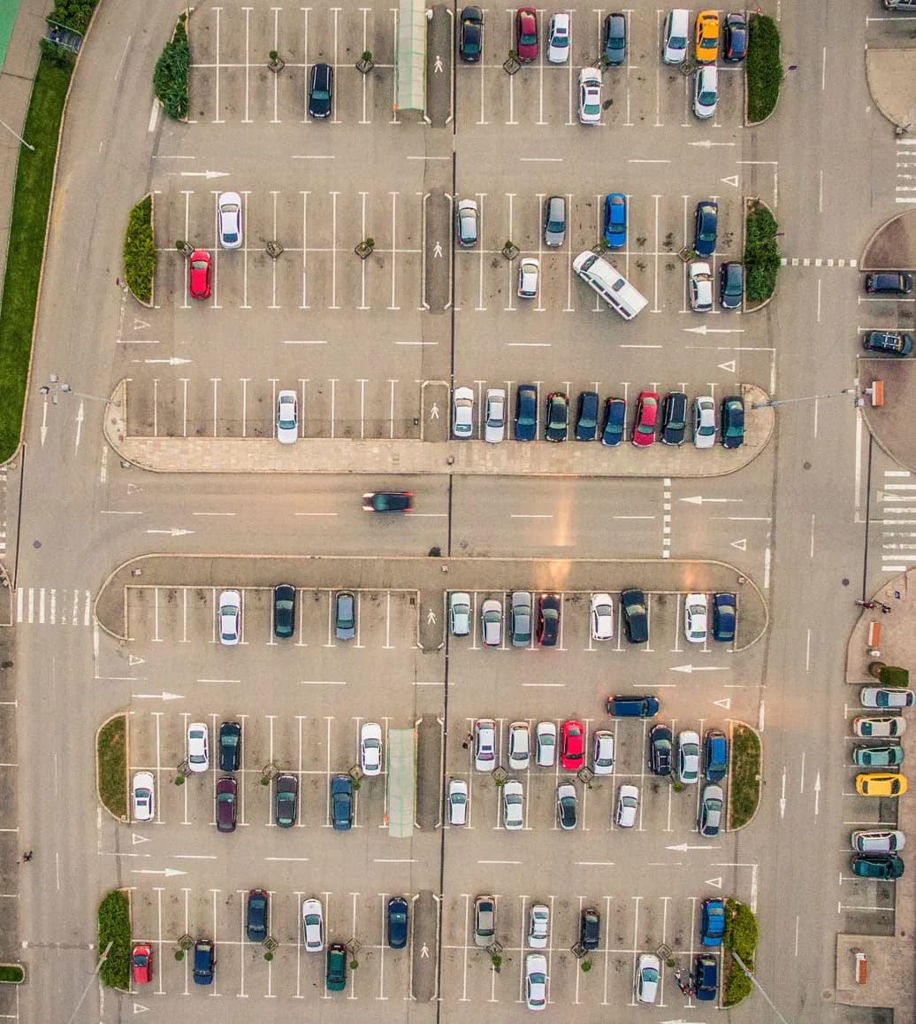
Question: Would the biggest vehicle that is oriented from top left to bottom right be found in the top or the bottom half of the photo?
top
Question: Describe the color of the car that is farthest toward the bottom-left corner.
red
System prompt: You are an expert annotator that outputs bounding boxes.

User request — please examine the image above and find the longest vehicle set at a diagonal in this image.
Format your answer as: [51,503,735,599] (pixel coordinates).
[573,255,650,325]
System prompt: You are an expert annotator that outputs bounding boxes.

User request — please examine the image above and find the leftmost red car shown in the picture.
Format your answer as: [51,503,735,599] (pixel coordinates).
[130,939,154,984]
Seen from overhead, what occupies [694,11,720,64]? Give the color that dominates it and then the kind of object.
orange car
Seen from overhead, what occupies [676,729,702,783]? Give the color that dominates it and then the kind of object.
white car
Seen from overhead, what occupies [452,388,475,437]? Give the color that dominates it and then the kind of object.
white car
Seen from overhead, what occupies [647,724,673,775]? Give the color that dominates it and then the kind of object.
black car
